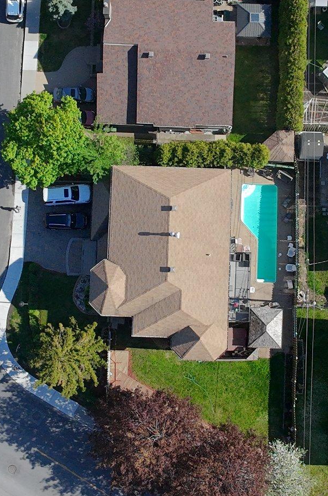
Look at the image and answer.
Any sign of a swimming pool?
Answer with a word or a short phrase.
Yes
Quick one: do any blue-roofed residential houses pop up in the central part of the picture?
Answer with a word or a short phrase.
No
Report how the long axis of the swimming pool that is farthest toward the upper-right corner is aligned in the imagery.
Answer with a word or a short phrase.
from top to bottom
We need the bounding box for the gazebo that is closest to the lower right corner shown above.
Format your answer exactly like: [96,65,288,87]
[247,307,284,349]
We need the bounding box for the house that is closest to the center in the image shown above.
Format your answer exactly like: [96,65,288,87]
[89,166,231,362]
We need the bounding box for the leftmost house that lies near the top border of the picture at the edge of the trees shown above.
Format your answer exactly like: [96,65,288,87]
[96,0,236,139]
